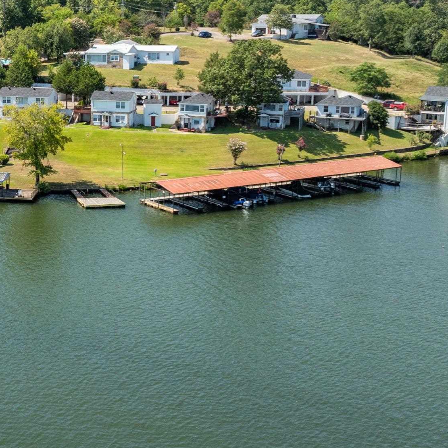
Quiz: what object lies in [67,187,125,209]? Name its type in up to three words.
pier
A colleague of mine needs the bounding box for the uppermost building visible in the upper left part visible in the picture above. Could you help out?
[60,43,180,70]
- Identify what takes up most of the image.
water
